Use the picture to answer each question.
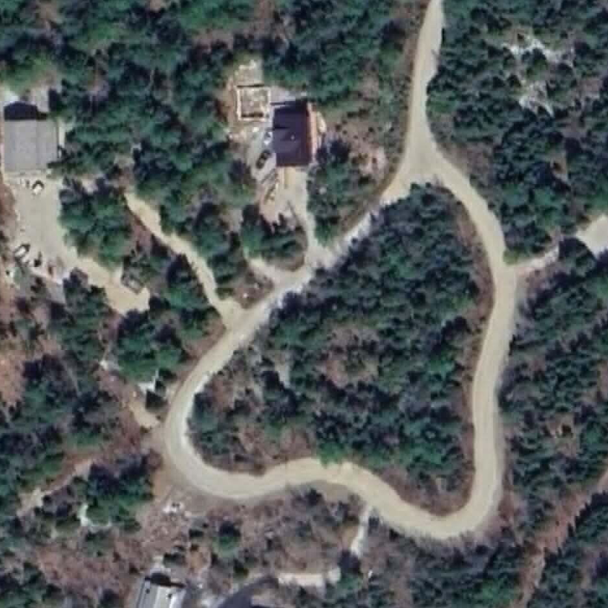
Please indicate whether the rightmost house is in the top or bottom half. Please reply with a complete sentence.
Seen from above, the rightmost house lies in the top half of the view.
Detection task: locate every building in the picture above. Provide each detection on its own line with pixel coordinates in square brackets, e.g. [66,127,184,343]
[275,106,321,166]
[139,579,186,608]
[4,119,59,168]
